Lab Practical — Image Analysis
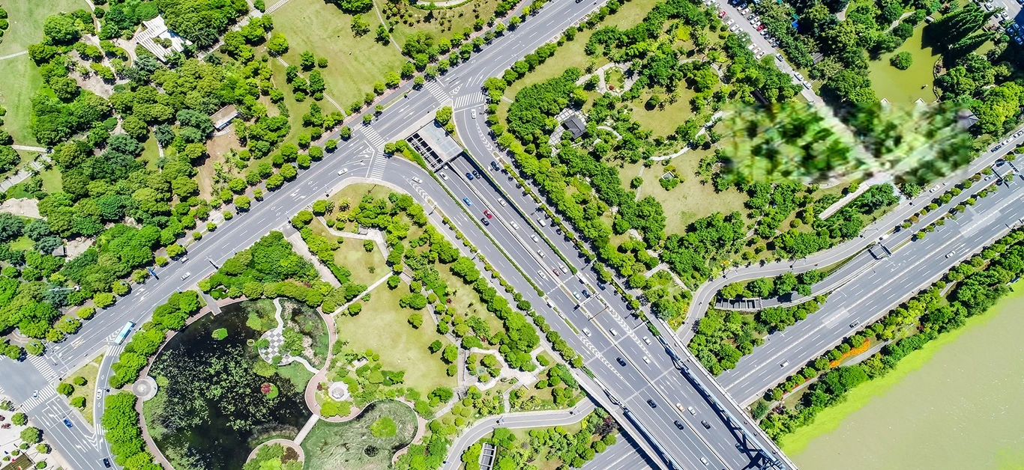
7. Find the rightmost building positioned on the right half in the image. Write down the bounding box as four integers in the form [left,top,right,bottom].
[955,108,983,130]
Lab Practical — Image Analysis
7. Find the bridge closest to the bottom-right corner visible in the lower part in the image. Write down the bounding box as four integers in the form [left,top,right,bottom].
[443,158,799,470]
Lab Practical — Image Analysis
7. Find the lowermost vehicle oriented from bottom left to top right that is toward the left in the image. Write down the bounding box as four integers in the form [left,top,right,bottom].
[113,321,133,345]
